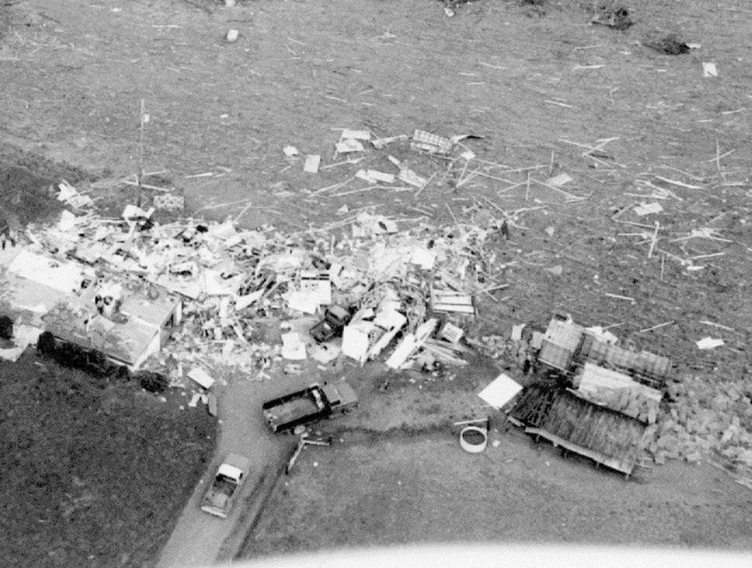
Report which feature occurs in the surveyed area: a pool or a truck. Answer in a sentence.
Of the two, only a truck appears.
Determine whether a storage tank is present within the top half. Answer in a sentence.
No, looking within the top half, there is no storage tank.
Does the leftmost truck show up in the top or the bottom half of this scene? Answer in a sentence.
It is in the bottom half that the leftmost truck appears.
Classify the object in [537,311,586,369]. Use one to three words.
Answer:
shed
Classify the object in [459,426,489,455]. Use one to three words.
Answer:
storage tank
